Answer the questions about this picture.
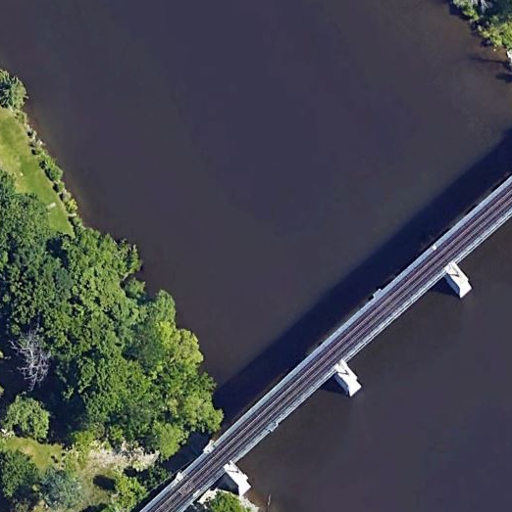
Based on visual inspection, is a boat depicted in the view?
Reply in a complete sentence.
No, the photo shows no boat.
